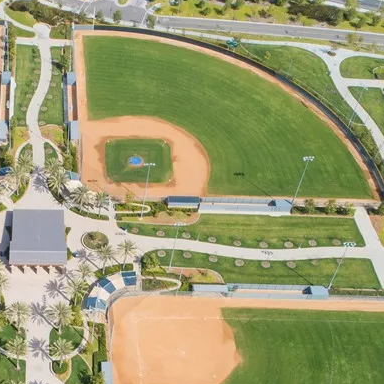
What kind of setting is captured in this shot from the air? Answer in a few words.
sports ground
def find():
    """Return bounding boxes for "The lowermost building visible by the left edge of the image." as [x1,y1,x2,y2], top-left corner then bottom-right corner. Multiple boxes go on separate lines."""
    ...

[9,210,67,278]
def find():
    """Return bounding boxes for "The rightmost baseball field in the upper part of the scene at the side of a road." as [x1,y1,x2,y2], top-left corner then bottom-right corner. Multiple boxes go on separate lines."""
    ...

[73,30,384,202]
